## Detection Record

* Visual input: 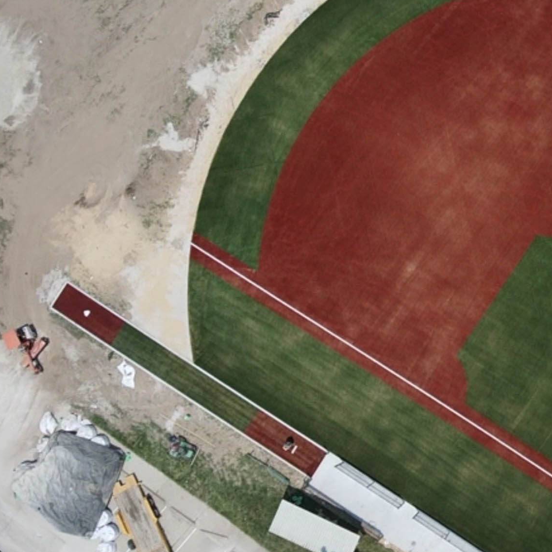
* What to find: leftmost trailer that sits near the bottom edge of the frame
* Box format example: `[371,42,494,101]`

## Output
[108,473,169,552]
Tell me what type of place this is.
sports ground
